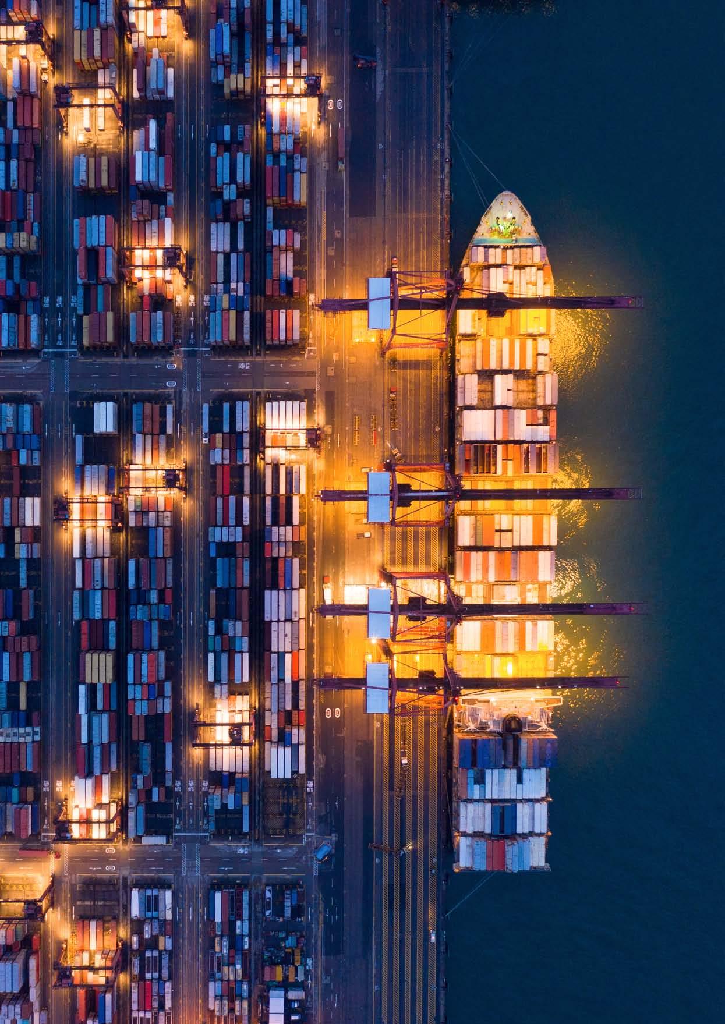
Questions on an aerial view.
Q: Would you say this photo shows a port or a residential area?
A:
port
